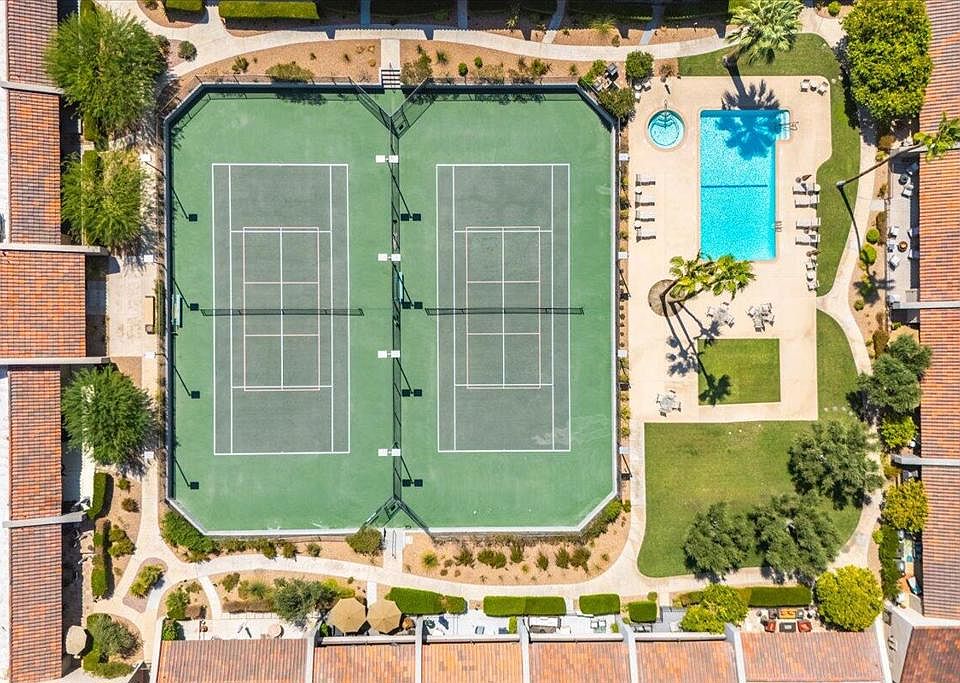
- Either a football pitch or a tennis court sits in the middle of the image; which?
tennis court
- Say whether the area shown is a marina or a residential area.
residential area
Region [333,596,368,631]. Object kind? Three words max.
umbrella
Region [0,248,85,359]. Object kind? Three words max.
house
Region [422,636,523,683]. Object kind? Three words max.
house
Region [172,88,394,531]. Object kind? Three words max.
tennis court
